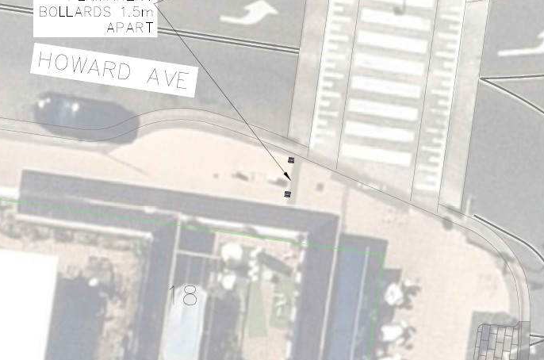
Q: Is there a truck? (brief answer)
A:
No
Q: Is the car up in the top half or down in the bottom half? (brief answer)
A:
top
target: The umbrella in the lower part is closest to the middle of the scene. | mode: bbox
[219,243,240,264]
